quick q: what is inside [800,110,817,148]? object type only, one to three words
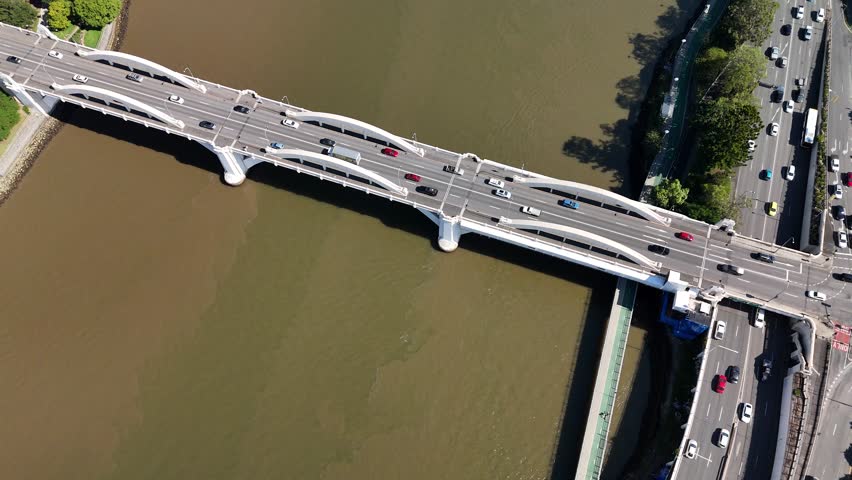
vehicle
